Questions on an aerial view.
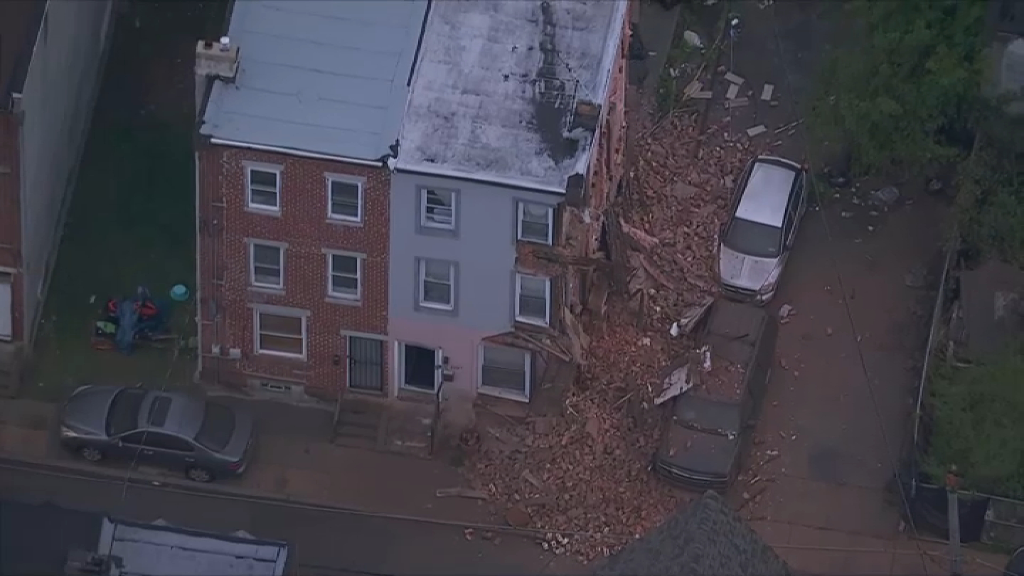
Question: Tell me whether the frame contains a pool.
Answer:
No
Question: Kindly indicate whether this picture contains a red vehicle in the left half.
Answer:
No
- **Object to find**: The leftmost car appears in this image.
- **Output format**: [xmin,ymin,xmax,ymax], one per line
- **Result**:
[58,374,258,481]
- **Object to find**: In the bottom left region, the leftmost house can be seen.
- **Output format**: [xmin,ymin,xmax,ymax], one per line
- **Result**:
[0,499,103,576]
